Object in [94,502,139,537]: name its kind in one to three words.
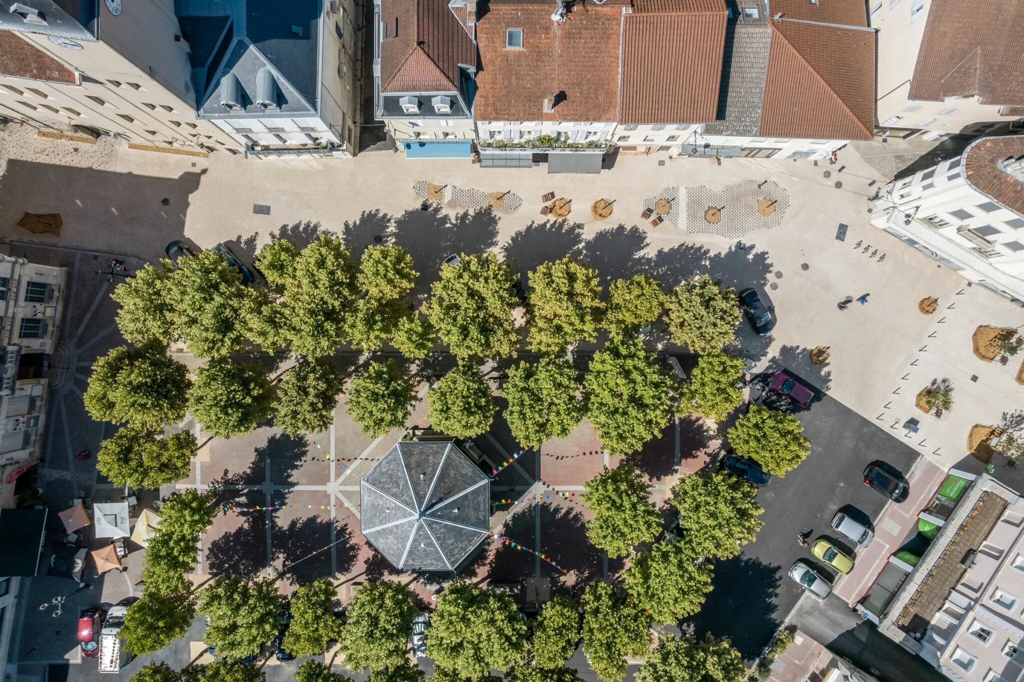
umbrella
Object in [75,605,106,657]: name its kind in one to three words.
car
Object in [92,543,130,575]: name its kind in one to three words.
umbrella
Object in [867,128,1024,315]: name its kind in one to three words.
building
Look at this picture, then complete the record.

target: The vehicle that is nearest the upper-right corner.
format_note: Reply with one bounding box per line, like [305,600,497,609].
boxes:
[738,282,778,340]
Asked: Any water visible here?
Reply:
No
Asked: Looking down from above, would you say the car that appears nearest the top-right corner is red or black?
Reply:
black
